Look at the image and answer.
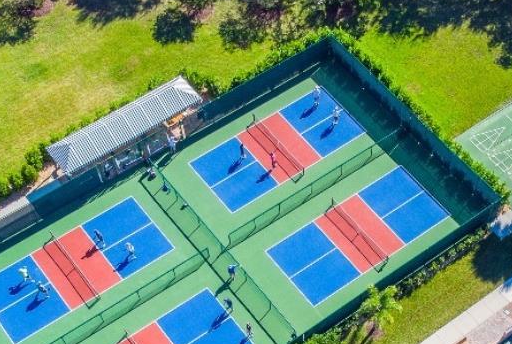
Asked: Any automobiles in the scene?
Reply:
No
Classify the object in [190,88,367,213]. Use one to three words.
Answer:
sports court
